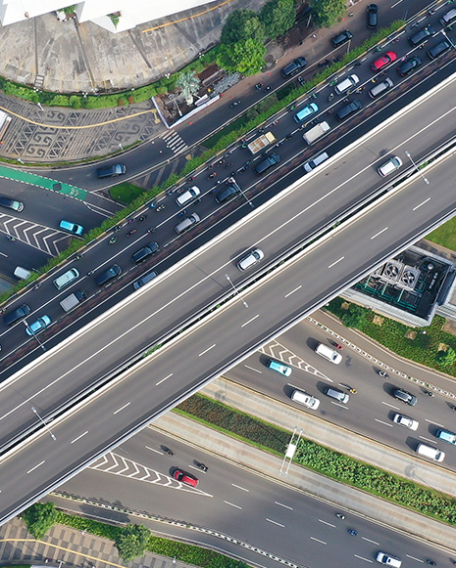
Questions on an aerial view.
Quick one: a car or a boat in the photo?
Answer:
car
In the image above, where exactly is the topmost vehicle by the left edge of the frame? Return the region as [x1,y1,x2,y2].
[0,195,26,213]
